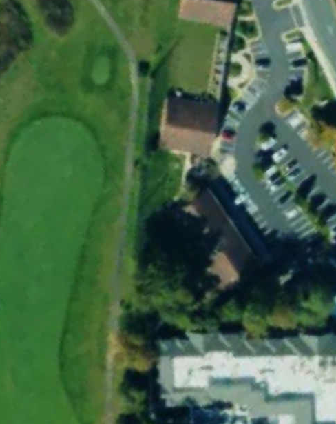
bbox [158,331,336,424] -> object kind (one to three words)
building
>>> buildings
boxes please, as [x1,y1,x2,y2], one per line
[158,93,222,154]
[158,331,336,424]
[179,0,237,29]
[190,179,272,272]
